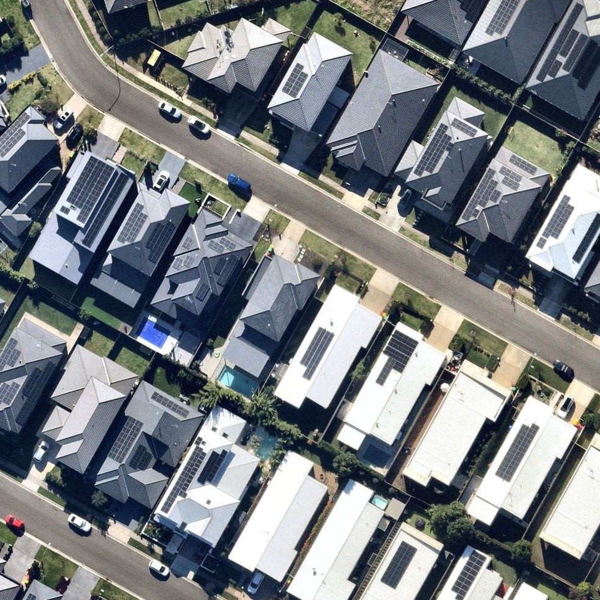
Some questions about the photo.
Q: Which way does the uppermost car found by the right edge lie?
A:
at an angle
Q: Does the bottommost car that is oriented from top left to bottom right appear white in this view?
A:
Yes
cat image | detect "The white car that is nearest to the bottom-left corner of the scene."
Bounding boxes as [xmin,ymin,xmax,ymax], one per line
[66,513,92,533]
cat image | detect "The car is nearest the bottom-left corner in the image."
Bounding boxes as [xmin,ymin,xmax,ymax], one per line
[3,514,27,532]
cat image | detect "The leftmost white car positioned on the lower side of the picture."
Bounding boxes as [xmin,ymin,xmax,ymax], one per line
[32,439,50,462]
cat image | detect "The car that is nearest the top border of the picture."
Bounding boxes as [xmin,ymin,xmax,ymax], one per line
[17,0,32,18]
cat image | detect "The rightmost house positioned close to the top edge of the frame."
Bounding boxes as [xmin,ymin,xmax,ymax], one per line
[526,0,600,121]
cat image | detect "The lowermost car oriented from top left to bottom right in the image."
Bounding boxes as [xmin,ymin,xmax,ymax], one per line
[146,557,171,577]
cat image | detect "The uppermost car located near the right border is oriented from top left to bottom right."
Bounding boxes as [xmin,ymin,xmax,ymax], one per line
[551,360,576,380]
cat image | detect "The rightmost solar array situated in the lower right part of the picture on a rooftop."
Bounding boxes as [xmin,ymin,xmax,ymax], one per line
[498,425,539,482]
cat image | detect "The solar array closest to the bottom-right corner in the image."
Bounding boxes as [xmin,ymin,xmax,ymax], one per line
[447,550,488,600]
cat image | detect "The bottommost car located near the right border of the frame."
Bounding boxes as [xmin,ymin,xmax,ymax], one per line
[557,393,575,420]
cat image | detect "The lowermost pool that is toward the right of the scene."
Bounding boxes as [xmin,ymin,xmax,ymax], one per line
[370,494,390,510]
